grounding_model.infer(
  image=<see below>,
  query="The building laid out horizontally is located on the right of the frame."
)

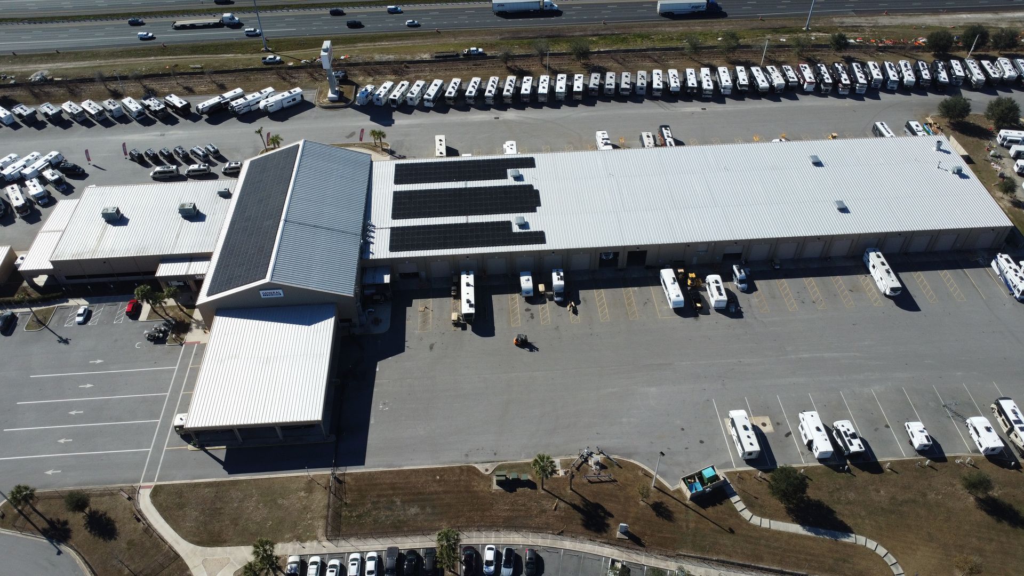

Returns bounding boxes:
[361,133,1014,280]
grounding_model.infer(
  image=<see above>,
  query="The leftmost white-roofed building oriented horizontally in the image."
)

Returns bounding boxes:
[18,177,235,284]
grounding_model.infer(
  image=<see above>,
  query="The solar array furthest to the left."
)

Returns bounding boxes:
[207,145,295,296]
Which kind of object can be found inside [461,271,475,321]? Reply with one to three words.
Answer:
trailer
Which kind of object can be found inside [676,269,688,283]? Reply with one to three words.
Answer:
vehicle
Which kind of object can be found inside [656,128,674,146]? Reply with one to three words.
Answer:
camper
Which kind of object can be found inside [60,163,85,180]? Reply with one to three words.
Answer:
vehicle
